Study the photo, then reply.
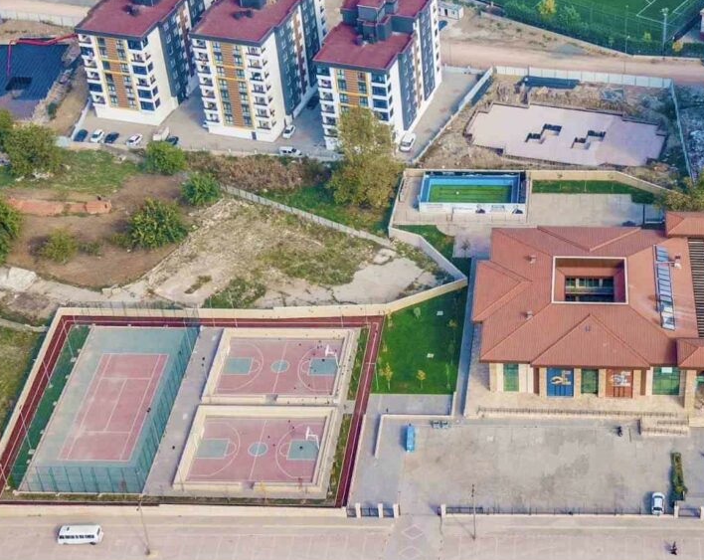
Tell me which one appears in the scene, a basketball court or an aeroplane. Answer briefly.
basketball court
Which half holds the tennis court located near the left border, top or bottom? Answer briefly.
bottom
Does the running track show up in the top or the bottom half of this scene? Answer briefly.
bottom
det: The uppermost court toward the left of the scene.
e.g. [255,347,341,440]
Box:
[201,327,353,404]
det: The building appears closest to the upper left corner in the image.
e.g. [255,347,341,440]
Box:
[71,0,213,126]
